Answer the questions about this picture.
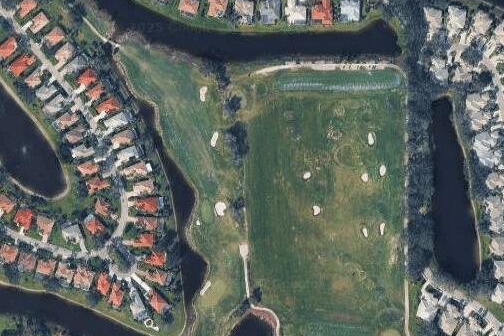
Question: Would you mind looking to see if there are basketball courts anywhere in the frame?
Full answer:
No, there appears to be no basketball court in this shot.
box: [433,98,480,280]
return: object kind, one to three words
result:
pond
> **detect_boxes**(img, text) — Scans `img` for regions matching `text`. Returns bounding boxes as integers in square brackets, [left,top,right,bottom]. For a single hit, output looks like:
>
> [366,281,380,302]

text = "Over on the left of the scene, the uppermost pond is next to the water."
[0,85,64,196]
